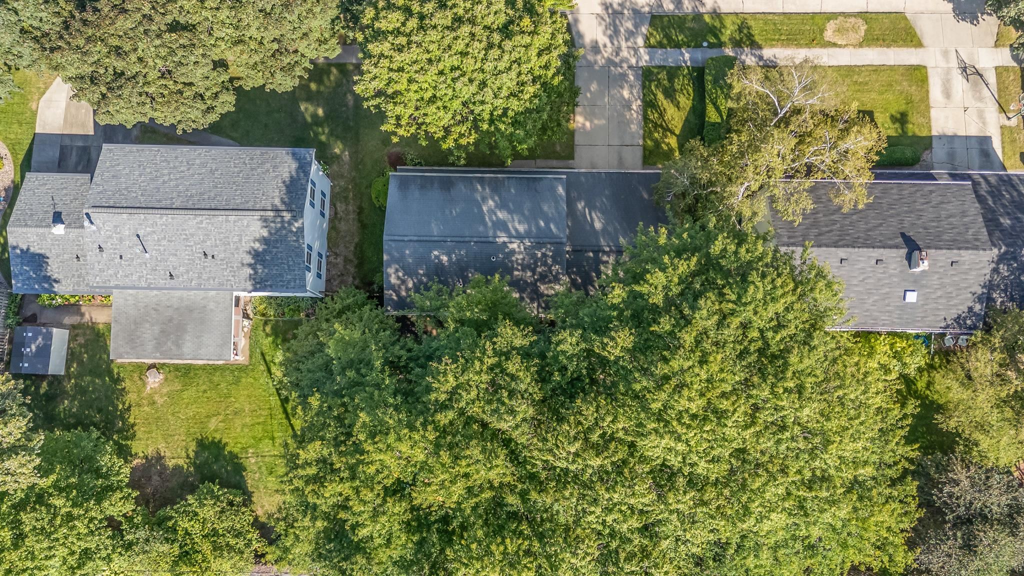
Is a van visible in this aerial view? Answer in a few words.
No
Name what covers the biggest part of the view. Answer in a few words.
trees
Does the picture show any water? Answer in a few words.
No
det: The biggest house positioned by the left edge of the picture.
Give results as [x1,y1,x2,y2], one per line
[7,143,334,362]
